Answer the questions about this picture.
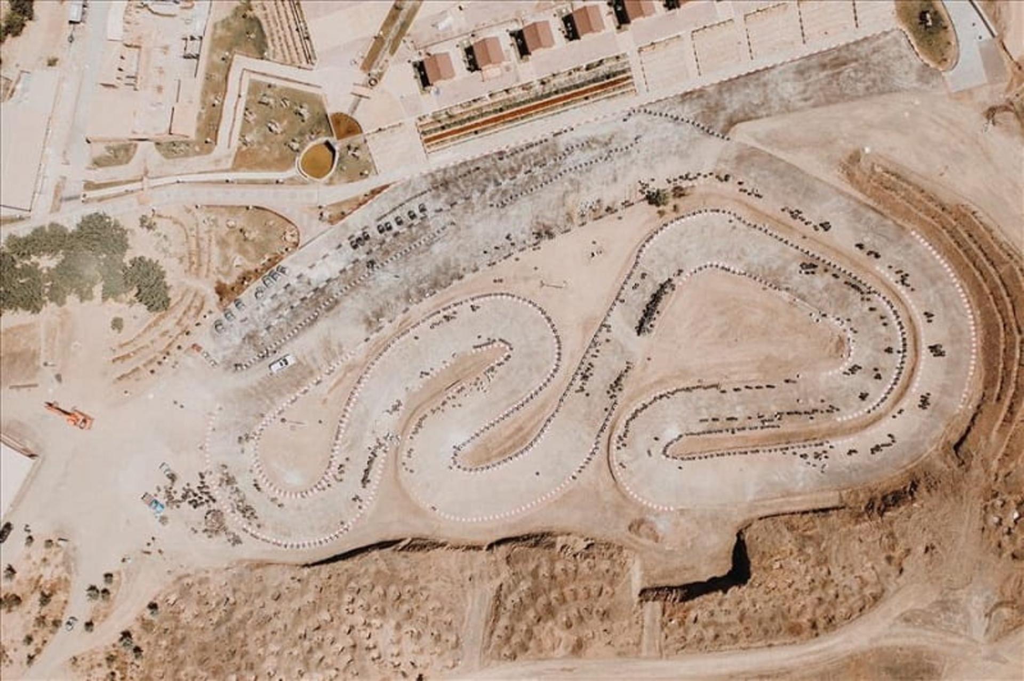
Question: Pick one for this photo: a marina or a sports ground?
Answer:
sports ground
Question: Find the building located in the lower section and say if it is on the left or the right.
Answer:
left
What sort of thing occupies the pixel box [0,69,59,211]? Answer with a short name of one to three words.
building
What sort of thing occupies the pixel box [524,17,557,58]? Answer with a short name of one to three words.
house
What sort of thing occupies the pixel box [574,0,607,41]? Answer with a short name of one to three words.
house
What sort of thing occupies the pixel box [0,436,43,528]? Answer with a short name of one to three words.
building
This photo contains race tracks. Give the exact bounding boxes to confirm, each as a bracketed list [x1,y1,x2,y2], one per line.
[205,29,976,549]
